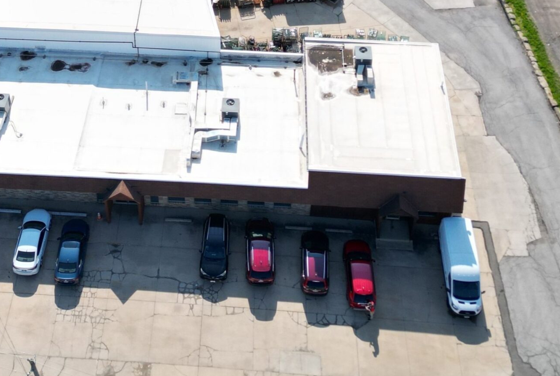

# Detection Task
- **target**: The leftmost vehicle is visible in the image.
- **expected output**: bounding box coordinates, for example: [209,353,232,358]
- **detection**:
[11,209,51,278]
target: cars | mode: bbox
[11,209,51,278]
[52,217,89,289]
[297,229,333,300]
[242,218,278,288]
[341,240,377,313]
[196,214,232,285]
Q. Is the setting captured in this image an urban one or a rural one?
urban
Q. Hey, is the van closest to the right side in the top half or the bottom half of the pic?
bottom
